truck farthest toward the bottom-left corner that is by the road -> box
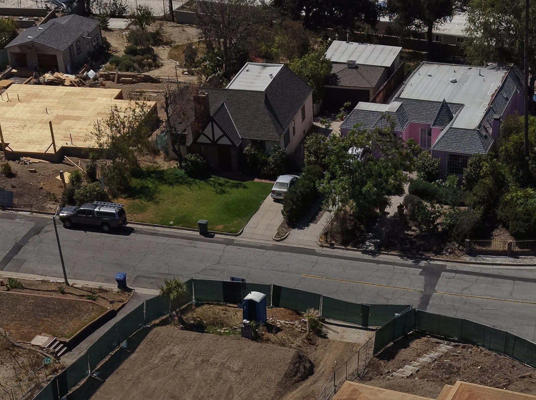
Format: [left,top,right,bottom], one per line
[58,201,126,232]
